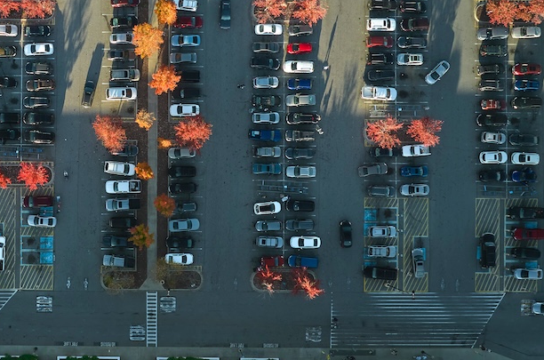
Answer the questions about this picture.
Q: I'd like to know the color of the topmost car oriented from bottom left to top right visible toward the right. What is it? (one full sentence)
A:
The color of the topmost car oriented from bottom left to top right visible toward the right is blue.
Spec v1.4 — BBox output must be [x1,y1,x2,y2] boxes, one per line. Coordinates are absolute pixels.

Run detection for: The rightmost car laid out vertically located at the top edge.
[218,0,231,29]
